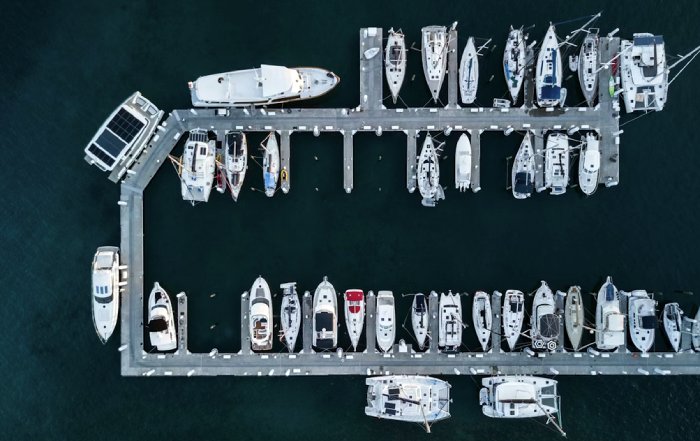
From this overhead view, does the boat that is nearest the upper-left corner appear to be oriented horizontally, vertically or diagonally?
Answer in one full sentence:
The boat that is nearest the upper-left corner runs diagonally in the image.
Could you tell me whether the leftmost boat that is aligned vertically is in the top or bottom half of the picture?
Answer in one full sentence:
The leftmost boat that is aligned vertically sits in the bottom half of the picture.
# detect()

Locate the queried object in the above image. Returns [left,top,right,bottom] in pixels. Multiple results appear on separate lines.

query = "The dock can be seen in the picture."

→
[121,28,700,376]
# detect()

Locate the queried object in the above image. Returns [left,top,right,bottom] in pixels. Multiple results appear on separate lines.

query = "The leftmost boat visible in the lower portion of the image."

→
[90,246,123,347]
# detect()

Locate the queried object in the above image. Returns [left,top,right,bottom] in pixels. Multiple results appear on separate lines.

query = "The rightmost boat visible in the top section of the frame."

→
[617,34,700,127]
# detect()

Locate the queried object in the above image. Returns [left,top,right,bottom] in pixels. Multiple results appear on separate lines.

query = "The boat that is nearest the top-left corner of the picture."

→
[85,92,167,183]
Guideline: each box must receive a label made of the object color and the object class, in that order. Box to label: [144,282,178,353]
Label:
white boat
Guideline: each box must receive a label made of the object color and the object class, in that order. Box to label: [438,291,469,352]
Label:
white boat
